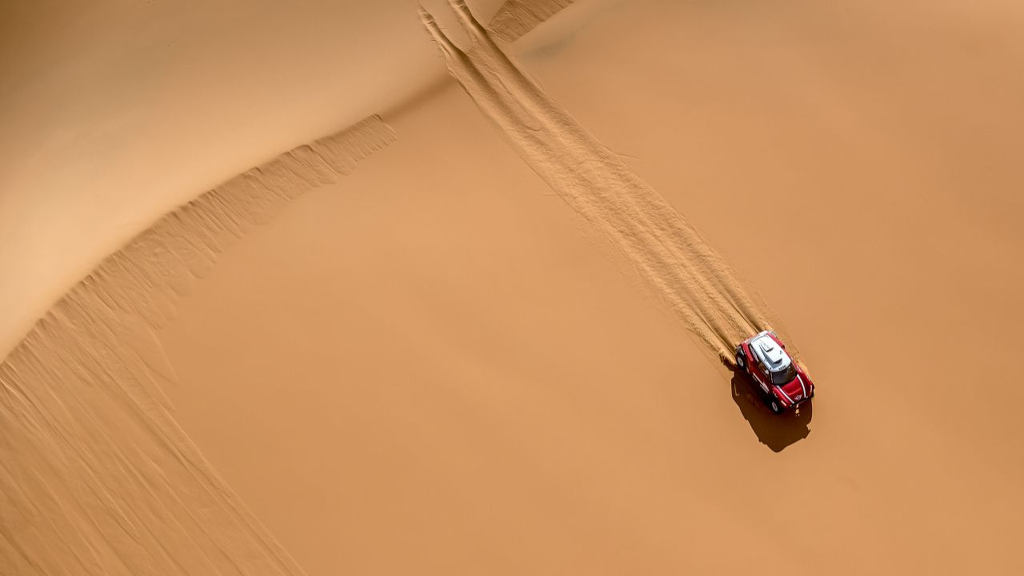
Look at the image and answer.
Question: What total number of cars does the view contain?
1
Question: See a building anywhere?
No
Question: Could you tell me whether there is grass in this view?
No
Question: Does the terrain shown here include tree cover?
No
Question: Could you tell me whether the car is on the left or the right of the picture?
right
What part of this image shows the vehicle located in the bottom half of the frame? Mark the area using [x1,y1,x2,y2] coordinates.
[731,330,812,415]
